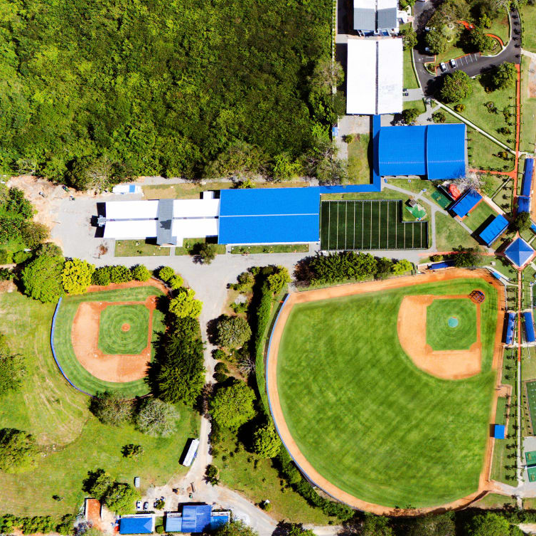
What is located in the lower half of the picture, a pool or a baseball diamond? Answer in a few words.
baseball diamond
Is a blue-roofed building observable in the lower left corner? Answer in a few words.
Yes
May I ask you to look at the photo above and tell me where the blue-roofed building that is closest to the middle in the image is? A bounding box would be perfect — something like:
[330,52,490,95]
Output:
[217,188,322,248]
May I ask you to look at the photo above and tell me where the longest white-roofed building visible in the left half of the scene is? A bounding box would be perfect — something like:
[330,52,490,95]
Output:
[104,199,219,246]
